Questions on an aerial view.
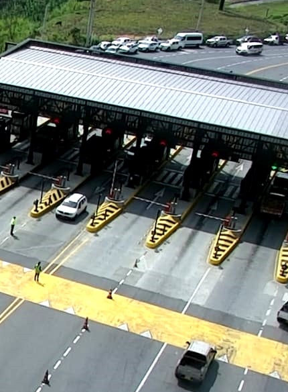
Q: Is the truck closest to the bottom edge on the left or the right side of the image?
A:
right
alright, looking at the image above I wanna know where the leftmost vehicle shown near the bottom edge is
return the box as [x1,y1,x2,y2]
[172,343,218,389]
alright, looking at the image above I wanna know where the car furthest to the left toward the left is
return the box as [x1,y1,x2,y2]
[56,190,87,222]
